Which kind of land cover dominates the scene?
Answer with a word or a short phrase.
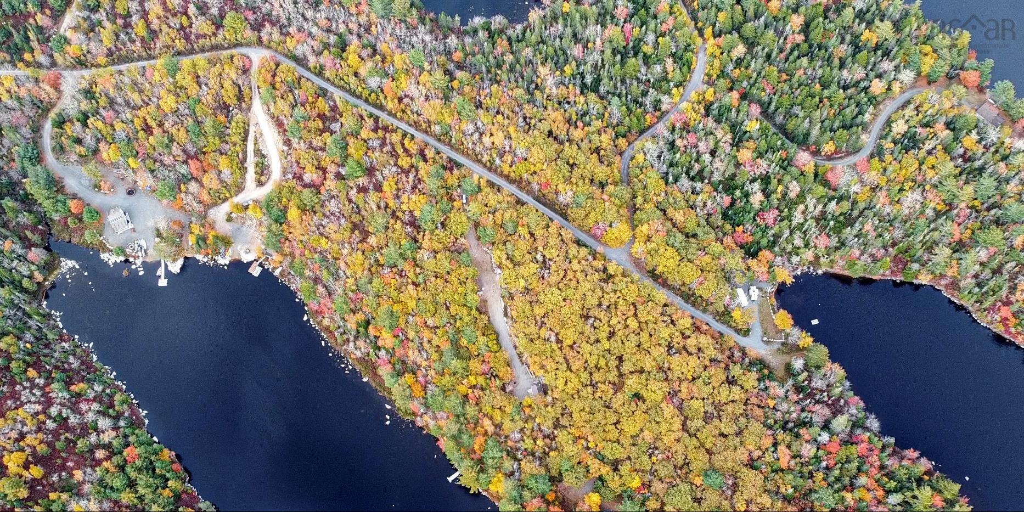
trees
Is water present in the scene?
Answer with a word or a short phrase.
Yes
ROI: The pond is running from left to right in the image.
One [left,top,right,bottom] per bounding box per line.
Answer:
[420,0,549,35]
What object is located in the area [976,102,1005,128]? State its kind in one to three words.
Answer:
building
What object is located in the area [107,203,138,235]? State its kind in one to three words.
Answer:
house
